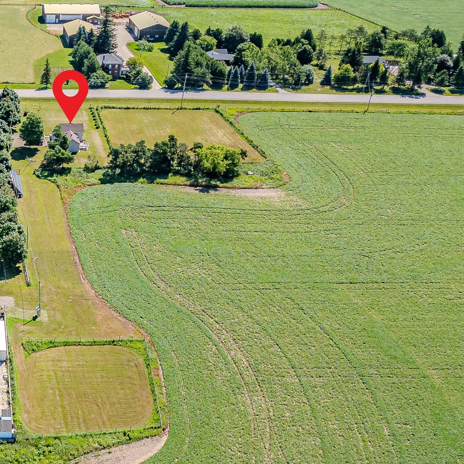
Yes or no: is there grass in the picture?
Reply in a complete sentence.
Yes, some grass is visible.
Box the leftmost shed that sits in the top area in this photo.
[11,160,32,197]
